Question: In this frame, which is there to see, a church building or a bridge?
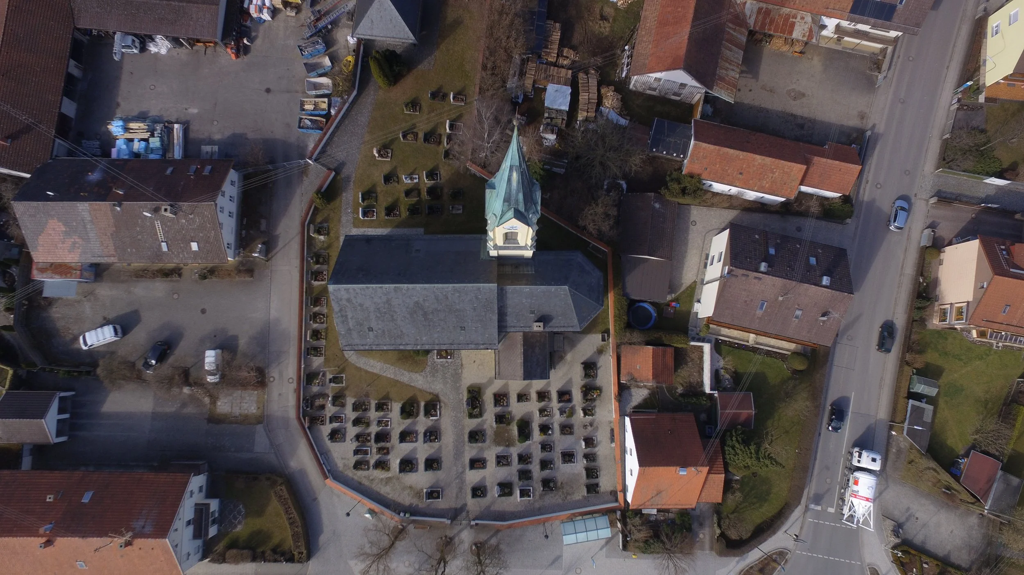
church building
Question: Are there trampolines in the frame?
Yes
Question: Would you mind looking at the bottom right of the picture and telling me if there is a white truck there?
Yes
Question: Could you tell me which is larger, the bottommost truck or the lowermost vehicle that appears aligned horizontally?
the truck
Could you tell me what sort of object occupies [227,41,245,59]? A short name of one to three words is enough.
work vehicle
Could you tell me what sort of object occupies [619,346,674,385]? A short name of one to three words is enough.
shed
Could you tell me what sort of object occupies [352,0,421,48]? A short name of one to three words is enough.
building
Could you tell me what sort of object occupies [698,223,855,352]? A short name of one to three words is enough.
house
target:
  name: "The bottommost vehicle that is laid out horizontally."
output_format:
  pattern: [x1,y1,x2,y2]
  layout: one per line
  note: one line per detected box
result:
[81,326,124,350]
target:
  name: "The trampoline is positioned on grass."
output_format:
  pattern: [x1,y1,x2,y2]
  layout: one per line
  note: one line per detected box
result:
[629,302,659,330]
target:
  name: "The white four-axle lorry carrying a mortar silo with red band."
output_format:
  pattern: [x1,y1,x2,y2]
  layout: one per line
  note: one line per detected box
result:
[839,448,880,538]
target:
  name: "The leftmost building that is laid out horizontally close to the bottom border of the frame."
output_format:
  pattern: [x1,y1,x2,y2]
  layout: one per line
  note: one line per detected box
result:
[0,465,241,575]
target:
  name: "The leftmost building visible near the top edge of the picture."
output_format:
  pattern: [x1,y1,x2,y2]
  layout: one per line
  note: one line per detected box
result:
[0,0,90,181]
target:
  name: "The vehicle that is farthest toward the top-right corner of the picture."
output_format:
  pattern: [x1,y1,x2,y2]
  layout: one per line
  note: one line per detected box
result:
[888,199,909,231]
